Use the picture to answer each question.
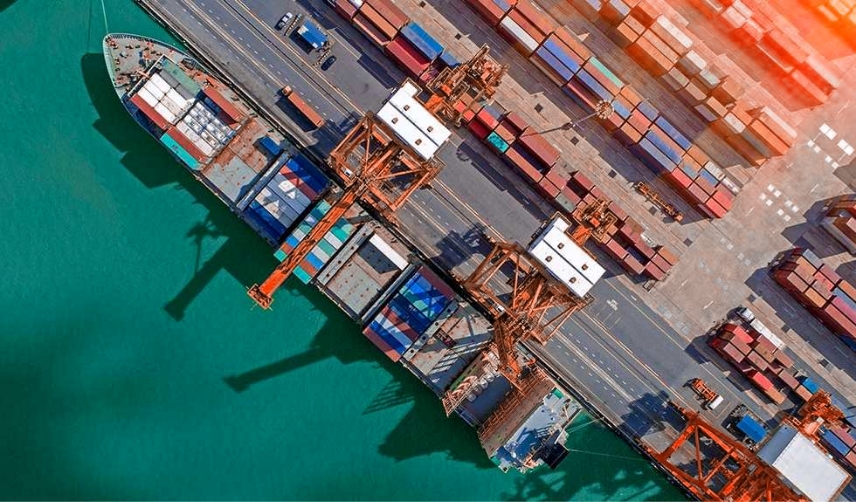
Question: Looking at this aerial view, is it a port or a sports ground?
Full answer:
This looks like a port.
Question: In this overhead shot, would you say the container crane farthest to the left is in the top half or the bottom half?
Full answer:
The container crane farthest to the left is in the top half of the image.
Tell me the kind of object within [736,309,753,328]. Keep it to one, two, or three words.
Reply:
vehicle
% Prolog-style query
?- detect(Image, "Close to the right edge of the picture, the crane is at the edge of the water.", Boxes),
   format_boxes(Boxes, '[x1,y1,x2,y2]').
[635,387,856,502]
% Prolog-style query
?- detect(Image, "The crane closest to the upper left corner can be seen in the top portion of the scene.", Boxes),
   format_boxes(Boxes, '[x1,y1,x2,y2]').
[242,23,499,318]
